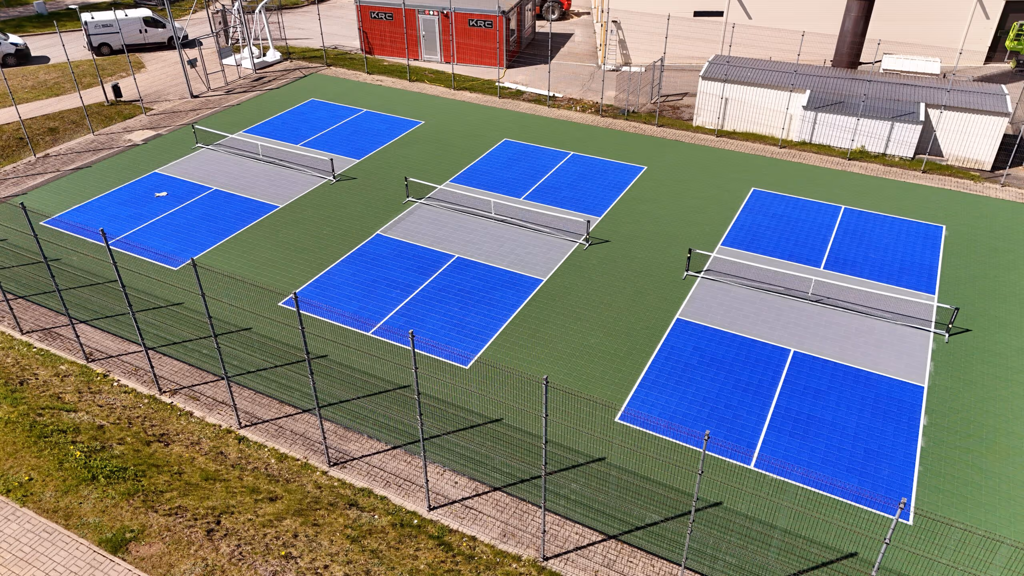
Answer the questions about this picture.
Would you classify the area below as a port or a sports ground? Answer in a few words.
sports ground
